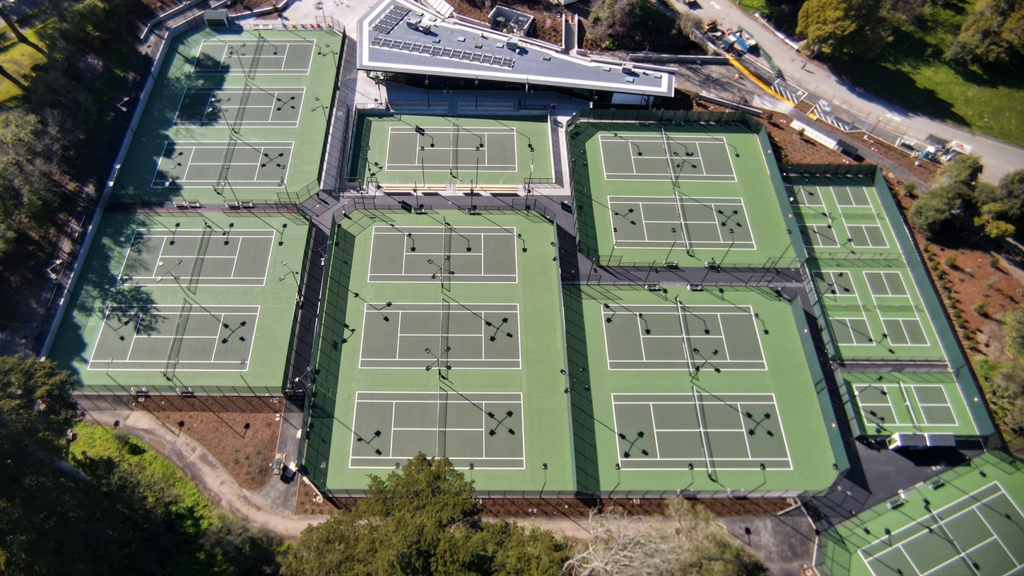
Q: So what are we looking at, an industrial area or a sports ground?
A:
sports ground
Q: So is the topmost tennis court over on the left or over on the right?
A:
left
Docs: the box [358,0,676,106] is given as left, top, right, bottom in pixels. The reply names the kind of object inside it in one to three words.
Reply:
building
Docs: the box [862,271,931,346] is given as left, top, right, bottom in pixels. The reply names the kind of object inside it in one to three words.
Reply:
sports court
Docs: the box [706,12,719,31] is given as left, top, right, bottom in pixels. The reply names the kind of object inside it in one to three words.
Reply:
vehicle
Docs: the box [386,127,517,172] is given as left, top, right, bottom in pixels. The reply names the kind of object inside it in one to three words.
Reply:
tennis court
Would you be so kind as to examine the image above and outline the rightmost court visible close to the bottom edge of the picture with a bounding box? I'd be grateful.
[857,480,1024,576]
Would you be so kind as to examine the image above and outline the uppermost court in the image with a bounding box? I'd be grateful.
[191,38,316,75]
